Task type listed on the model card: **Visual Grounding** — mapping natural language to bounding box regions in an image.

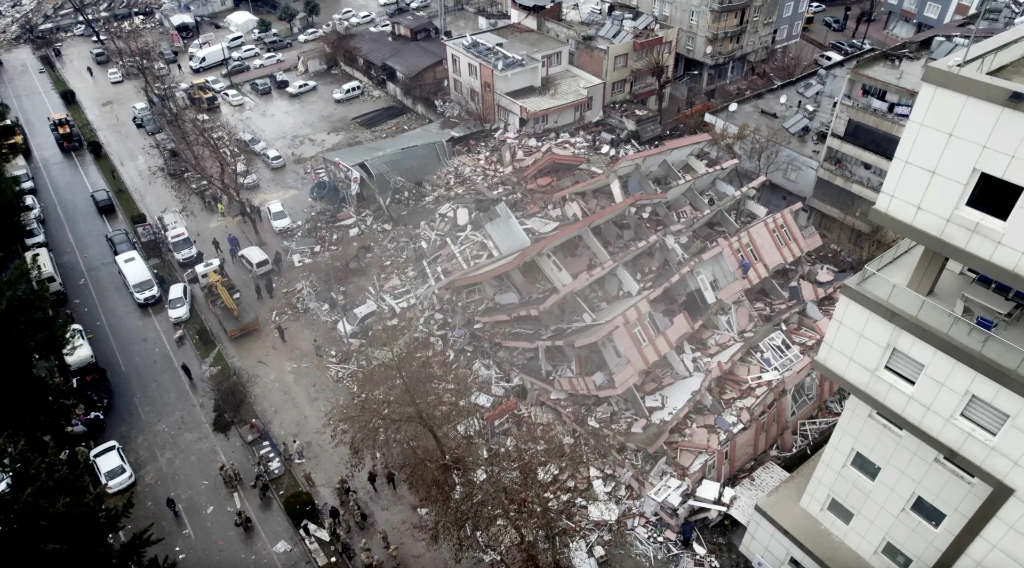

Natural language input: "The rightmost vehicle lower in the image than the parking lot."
[333,303,382,346]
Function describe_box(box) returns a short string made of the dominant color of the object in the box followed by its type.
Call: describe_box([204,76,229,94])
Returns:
white car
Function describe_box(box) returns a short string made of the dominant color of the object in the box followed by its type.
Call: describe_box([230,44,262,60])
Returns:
white car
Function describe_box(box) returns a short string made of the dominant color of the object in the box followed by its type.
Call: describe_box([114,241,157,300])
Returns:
white vehicle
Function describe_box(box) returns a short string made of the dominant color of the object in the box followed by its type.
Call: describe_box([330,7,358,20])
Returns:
white vehicle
